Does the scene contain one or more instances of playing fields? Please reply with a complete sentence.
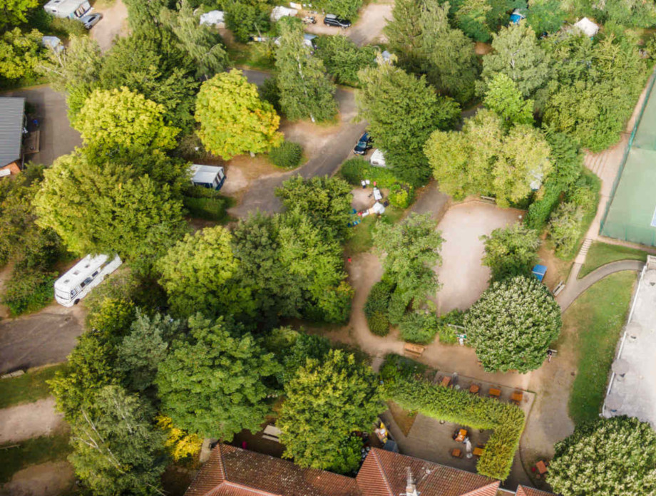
Yes, a playing field appears in the view.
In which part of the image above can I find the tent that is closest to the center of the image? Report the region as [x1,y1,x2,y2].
[363,192,388,216]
